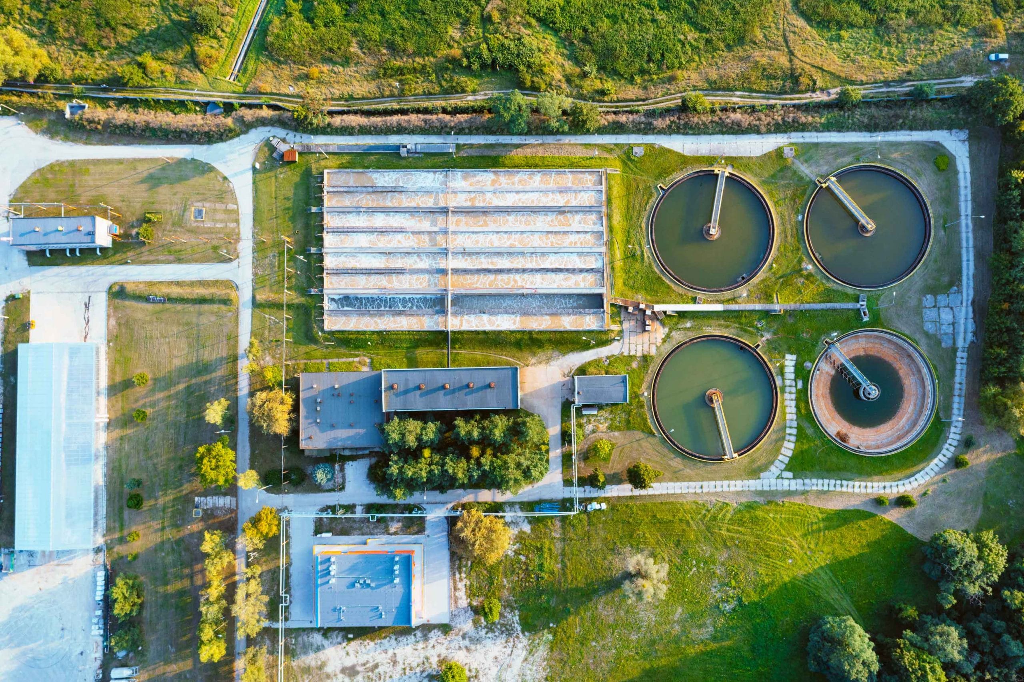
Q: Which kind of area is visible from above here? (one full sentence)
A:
It's an industrial area.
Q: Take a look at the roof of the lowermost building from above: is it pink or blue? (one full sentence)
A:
The roof of the lowermost building looks blue in the image.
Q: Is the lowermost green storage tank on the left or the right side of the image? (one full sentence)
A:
It is on the right.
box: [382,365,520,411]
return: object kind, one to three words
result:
building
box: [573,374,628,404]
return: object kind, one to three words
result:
building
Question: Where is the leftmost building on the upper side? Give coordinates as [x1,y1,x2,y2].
[0,216,113,257]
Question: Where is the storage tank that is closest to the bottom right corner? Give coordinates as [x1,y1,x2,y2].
[808,328,937,456]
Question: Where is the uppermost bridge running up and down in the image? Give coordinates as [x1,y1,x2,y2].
[709,169,729,232]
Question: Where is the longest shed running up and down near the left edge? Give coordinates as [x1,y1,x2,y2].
[16,343,118,551]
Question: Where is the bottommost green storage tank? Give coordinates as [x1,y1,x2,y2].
[651,334,779,462]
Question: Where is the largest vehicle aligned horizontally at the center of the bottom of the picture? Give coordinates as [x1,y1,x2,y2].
[586,502,608,514]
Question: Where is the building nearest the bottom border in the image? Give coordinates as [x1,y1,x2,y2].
[316,549,418,629]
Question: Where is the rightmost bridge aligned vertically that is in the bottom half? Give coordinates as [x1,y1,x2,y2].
[710,394,738,461]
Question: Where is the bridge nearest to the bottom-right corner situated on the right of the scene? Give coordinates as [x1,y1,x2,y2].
[827,340,875,395]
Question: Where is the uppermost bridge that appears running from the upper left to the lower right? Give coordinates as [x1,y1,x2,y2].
[821,174,873,232]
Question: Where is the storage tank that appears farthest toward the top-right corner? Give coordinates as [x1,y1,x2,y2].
[804,163,932,290]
